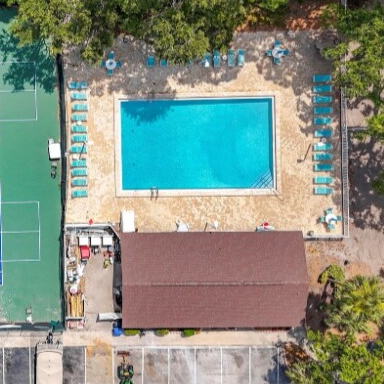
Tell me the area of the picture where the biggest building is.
bottom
